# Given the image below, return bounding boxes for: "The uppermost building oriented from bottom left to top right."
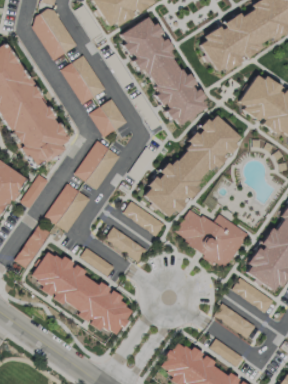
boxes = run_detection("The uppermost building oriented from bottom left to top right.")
[201,0,288,74]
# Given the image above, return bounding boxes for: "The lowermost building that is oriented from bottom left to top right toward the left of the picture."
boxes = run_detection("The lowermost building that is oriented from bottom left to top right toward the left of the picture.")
[15,226,51,268]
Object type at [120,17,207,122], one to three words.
building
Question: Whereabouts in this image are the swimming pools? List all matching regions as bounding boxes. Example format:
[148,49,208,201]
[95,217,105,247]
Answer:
[218,187,228,197]
[213,155,285,225]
